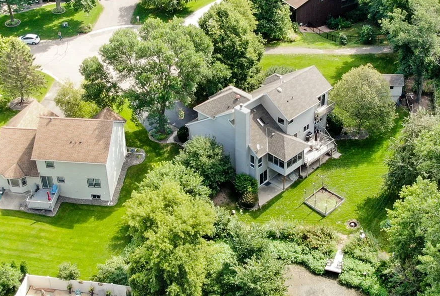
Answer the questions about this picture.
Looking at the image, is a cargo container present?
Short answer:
No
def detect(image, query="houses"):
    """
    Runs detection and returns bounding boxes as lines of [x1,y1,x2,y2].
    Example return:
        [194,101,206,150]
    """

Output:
[187,61,351,192]
[0,99,142,214]
[280,0,350,22]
